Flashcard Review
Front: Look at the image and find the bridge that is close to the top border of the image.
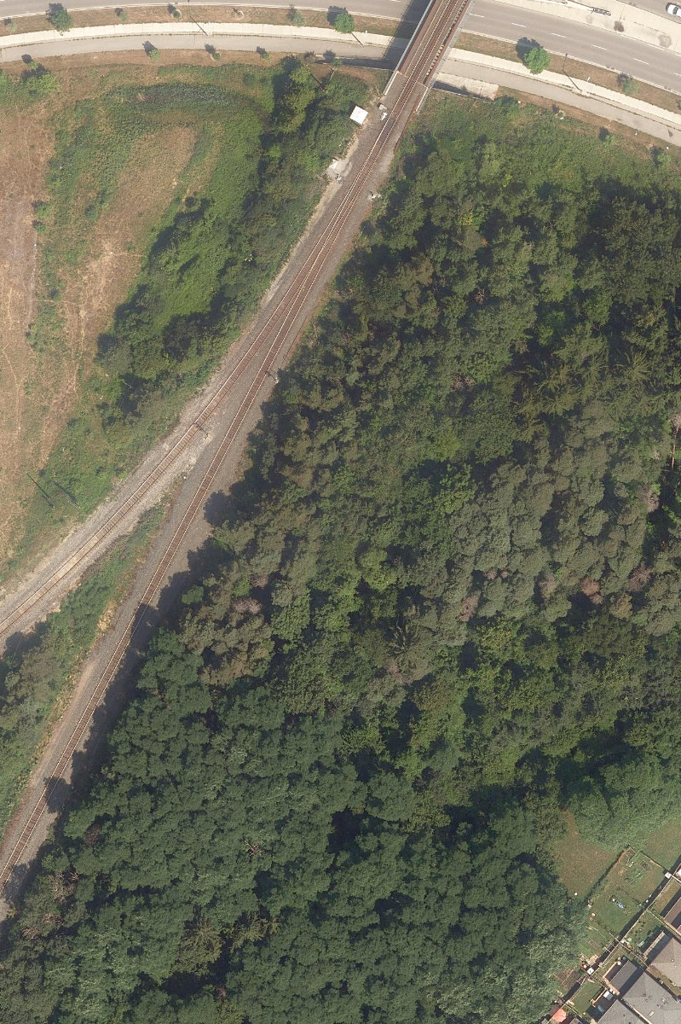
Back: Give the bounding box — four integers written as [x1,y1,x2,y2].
[394,0,479,89]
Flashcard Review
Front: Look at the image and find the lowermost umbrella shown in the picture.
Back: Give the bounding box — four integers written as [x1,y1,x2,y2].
[553,1008,567,1022]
